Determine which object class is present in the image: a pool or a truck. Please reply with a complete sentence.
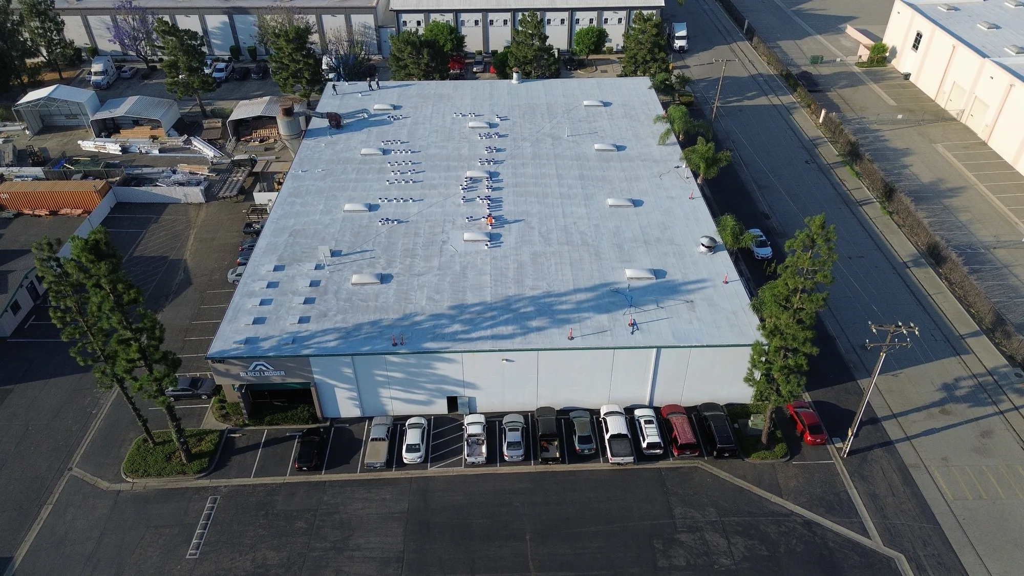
This aerial view contains a truck.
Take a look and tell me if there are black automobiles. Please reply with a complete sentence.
Yes, the image includes a black automobile.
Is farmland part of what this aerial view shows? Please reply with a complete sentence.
No, farmland can't be seen anywhere here.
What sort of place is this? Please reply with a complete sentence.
The picture captures an industrial area.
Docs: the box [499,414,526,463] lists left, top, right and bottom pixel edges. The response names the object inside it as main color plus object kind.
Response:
gray car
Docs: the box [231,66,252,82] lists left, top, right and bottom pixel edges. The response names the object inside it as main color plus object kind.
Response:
black car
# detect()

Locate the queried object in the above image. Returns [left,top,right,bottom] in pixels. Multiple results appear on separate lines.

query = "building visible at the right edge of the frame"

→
[884,0,1024,177]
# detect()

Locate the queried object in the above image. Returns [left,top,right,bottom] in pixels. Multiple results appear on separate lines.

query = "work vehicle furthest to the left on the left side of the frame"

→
[22,144,48,169]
